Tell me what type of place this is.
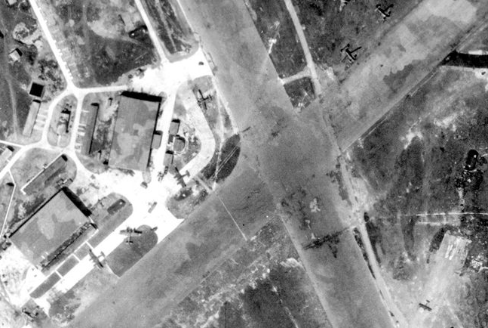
airport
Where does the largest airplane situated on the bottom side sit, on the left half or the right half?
right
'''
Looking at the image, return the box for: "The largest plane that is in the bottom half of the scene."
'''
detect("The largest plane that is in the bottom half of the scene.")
[306,231,339,255]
